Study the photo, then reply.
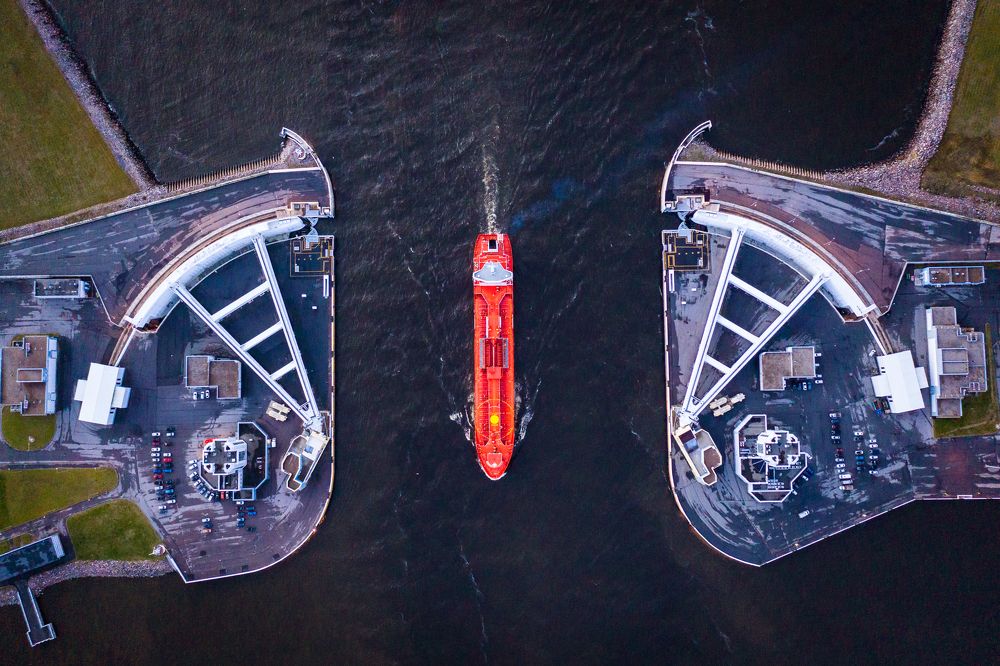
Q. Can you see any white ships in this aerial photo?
No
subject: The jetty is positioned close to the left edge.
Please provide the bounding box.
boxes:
[17,585,58,647]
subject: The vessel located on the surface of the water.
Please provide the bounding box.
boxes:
[473,234,515,479]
